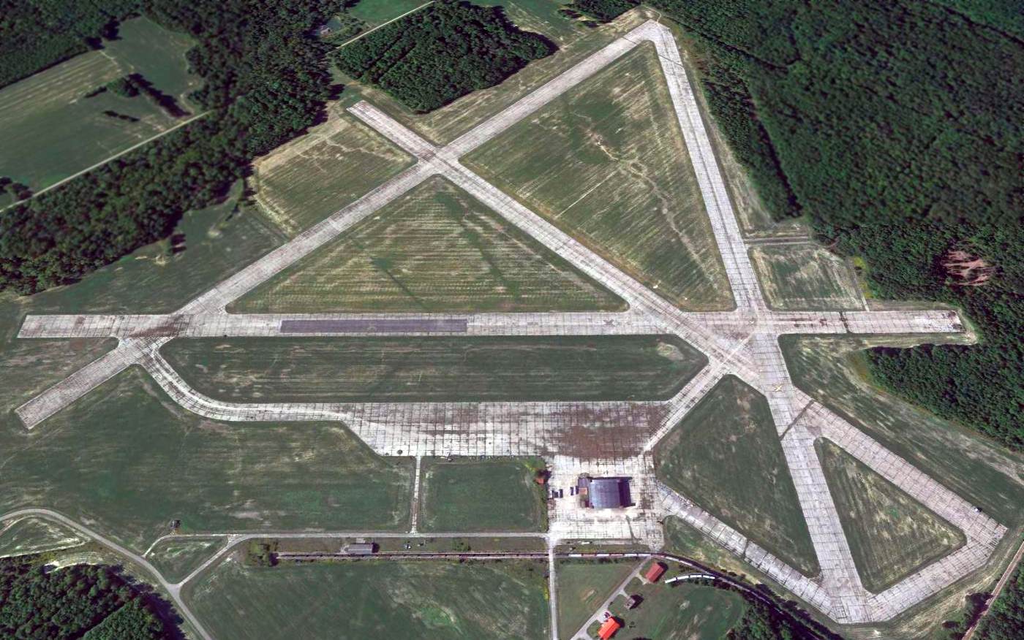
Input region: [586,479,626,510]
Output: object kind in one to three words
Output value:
hangar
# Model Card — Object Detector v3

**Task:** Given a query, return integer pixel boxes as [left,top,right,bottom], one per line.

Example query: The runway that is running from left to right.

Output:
[18,295,966,349]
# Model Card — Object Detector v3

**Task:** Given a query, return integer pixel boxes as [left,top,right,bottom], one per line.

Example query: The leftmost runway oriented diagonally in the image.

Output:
[15,20,652,429]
